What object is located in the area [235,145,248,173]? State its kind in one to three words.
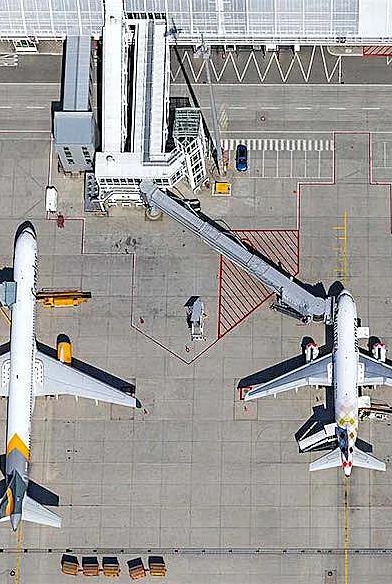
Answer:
vehicle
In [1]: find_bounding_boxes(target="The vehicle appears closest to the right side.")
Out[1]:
[358,403,392,422]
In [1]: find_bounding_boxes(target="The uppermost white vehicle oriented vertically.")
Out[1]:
[45,188,57,214]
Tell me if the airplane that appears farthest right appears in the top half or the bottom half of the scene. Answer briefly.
bottom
